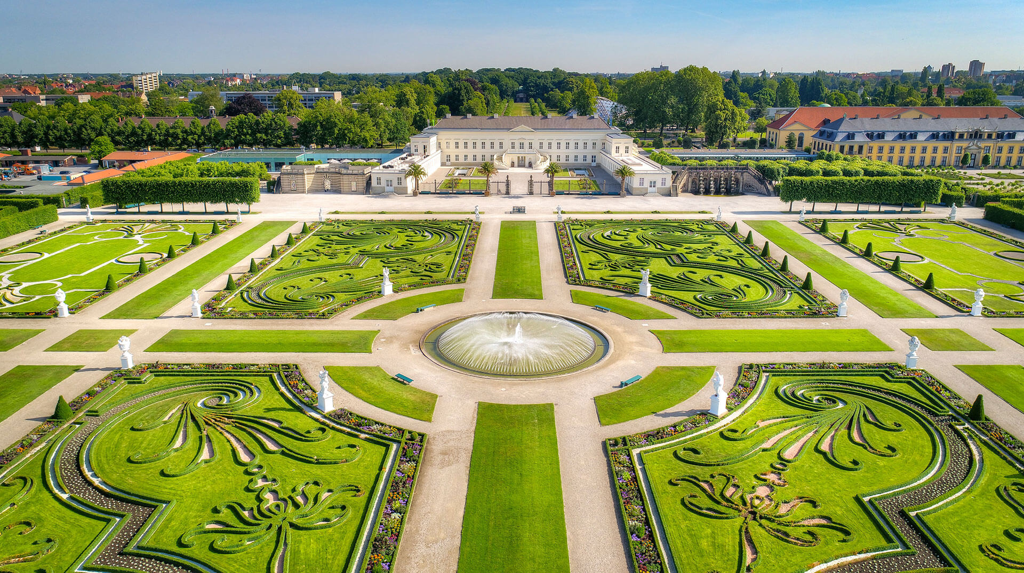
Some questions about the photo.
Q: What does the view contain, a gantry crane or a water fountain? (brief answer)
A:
water fountain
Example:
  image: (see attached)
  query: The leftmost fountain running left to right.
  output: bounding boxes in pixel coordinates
[420,308,616,380]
